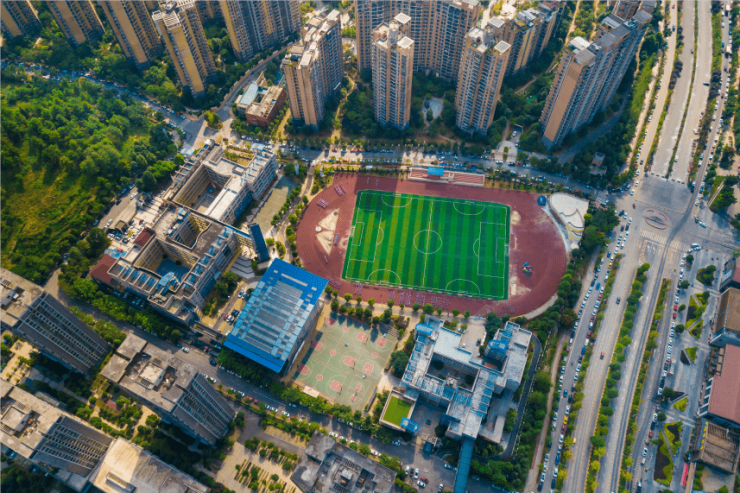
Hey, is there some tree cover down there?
Yes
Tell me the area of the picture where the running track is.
center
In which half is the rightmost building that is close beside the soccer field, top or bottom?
top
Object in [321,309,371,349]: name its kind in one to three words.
basketball court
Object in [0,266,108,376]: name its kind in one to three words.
building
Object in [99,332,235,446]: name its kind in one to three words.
building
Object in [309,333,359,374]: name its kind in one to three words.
basketball court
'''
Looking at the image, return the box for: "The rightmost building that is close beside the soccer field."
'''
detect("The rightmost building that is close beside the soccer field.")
[536,8,653,147]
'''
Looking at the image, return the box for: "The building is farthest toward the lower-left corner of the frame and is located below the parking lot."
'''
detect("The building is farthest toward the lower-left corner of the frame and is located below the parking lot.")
[0,374,117,481]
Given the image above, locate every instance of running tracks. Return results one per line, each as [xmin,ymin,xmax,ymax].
[296,173,567,318]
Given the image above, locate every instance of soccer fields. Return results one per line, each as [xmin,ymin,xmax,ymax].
[342,189,512,299]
